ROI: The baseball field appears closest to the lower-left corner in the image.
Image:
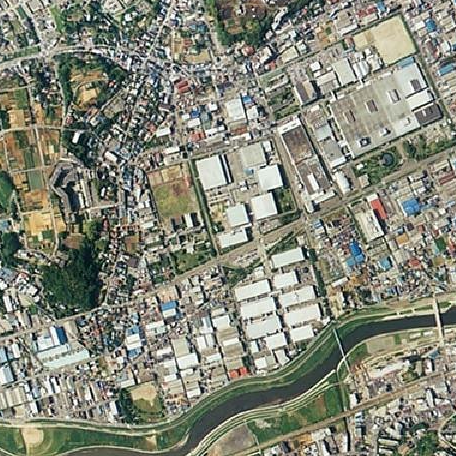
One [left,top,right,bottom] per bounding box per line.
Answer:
[13,427,56,456]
